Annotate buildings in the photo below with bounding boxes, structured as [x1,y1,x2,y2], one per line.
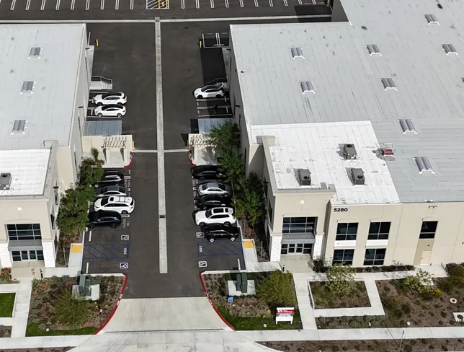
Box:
[223,0,464,266]
[0,24,91,267]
